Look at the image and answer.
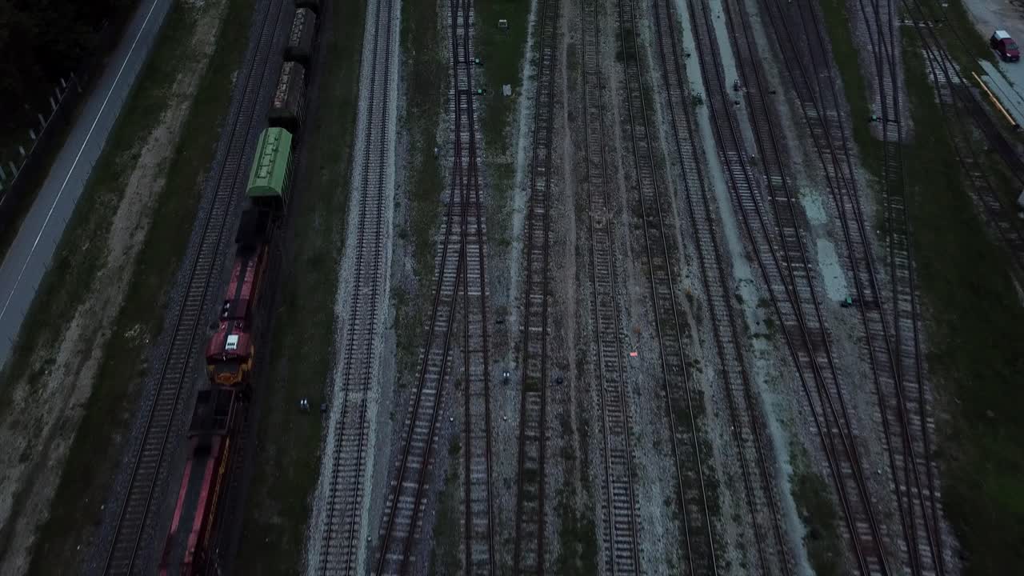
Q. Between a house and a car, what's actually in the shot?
car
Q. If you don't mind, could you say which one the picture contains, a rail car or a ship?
rail car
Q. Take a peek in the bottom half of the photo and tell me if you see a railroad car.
Yes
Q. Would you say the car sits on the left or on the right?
right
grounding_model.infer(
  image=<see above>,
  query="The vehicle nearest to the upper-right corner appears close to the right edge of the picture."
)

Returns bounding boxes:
[989,29,1020,63]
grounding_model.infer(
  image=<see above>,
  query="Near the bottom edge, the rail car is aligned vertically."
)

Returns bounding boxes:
[153,384,250,576]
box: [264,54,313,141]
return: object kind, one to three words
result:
rail car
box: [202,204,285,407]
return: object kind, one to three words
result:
rail car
